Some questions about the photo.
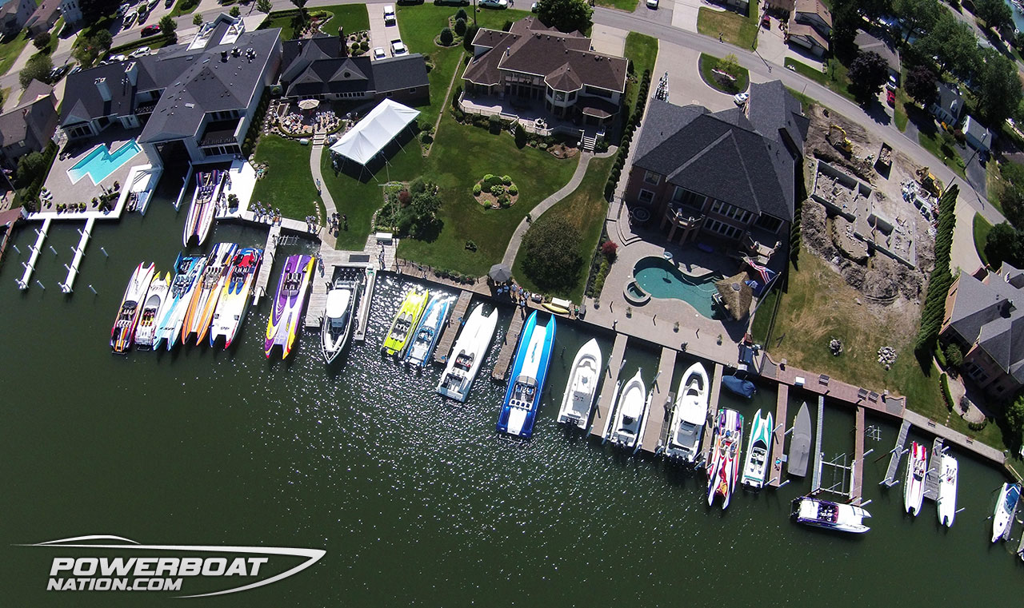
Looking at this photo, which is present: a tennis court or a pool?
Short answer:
pool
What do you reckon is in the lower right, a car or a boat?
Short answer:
boat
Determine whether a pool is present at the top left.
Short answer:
Yes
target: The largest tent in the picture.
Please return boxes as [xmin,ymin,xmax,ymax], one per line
[318,98,429,181]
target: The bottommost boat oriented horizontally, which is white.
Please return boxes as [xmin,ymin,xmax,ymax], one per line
[787,496,870,535]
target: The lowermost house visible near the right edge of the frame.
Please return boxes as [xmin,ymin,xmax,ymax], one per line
[939,262,1024,399]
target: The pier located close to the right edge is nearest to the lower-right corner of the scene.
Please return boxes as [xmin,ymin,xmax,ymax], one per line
[999,483,1024,541]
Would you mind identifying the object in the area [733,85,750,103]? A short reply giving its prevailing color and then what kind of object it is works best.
white car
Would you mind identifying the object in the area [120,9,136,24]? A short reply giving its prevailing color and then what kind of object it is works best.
white car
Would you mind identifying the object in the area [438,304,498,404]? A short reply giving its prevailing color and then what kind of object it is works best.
white boat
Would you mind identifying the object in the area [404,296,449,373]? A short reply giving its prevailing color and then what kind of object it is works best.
white boat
